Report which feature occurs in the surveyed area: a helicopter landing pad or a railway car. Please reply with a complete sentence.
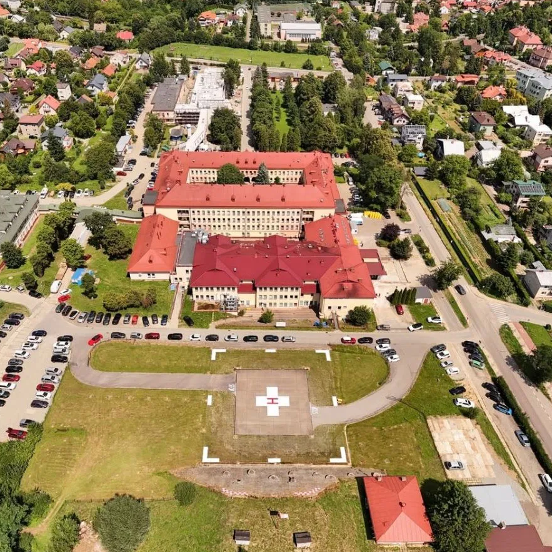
Visible in the photo is a helicopter landing pad.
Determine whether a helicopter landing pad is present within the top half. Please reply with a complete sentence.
No, I see no helicopter landing pad within the top half.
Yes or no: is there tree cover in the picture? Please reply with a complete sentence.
Yes, there's tree cover in this view.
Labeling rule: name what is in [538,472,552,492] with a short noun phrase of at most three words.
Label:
car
